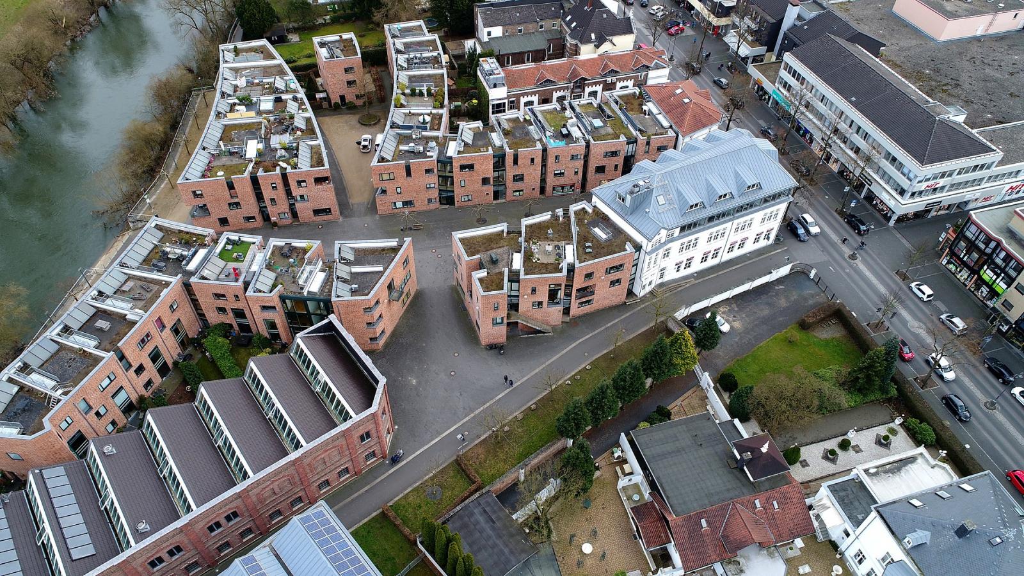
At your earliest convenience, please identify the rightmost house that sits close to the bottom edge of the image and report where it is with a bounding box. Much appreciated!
[849,469,1024,576]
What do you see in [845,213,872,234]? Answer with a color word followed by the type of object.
black car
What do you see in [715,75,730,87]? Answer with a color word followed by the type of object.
gray vehicle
